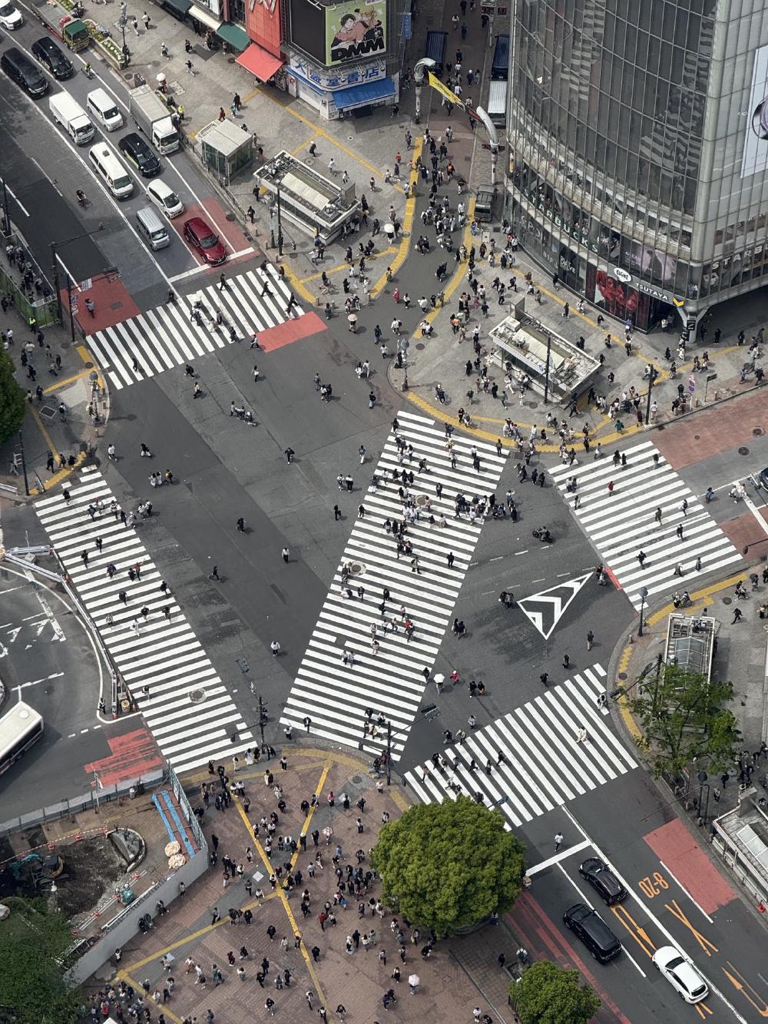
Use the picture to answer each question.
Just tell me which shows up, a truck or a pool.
truck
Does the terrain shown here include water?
No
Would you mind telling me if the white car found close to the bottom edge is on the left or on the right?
right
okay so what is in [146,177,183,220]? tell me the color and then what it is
white car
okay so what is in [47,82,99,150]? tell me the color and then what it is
white truck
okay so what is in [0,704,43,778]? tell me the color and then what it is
white bus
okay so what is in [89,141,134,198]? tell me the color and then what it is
white van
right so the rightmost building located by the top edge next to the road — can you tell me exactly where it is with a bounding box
[498,0,768,350]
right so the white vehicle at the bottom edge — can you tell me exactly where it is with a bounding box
[653,945,710,1007]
